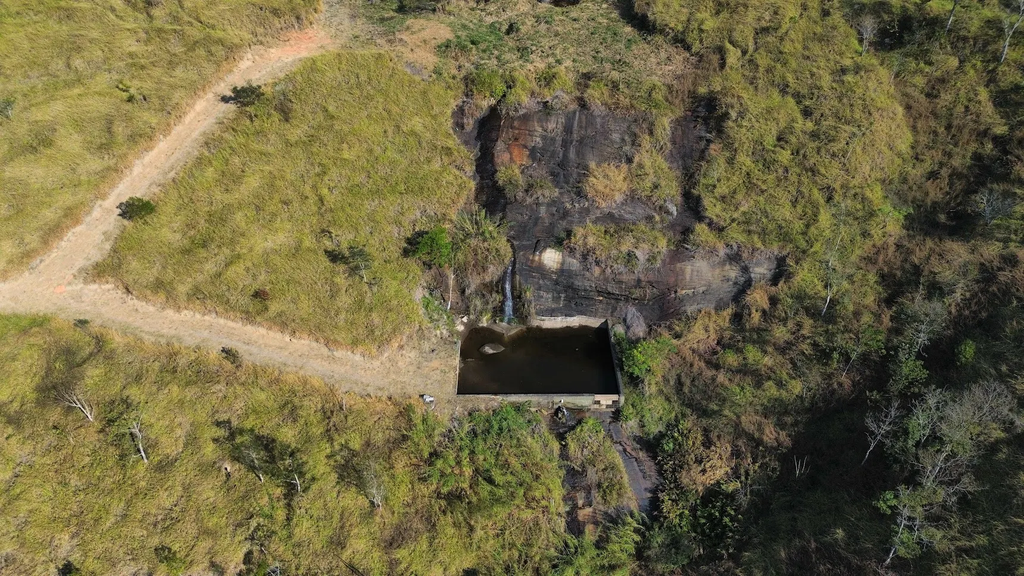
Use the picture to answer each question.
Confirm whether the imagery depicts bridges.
No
